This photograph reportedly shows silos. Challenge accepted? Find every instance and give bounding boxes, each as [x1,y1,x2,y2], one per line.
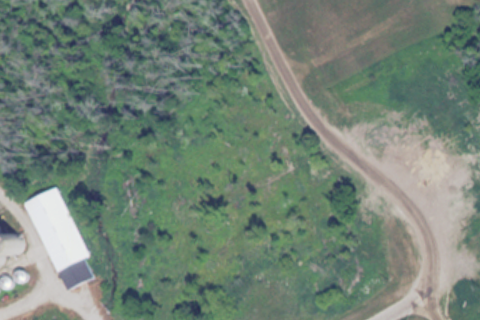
[13,270,30,286]
[0,276,15,292]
